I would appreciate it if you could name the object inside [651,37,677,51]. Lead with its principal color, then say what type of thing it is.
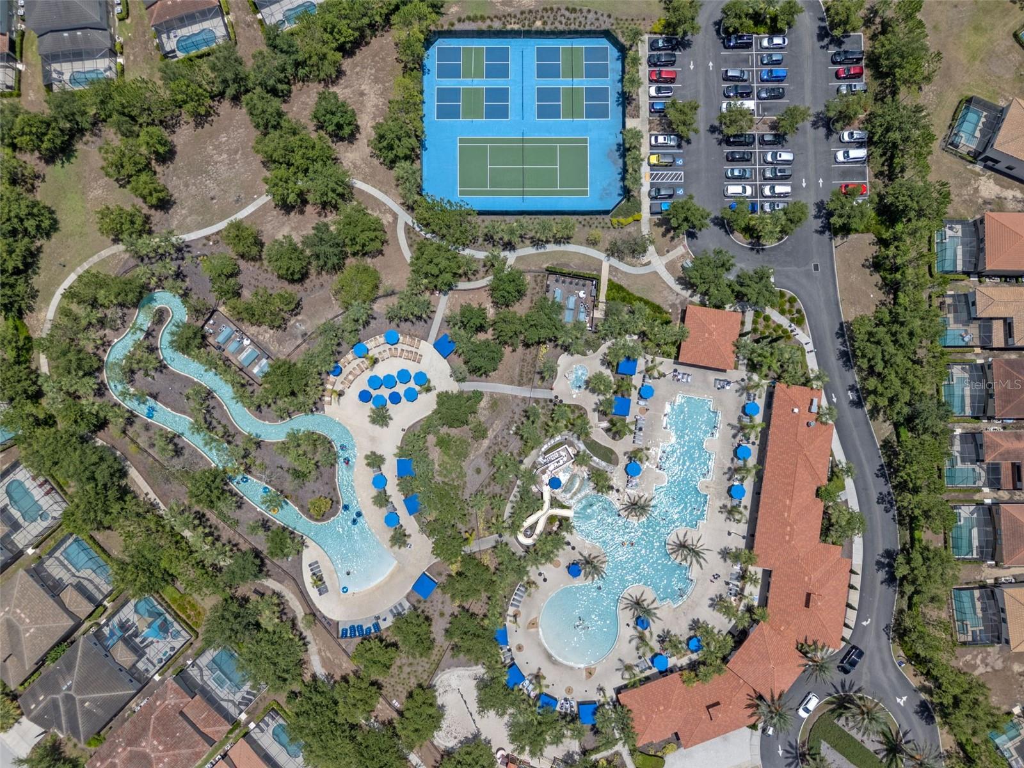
black car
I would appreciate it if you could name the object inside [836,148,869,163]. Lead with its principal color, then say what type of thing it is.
white vehicle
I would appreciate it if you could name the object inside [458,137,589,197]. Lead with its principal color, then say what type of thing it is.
green tennis court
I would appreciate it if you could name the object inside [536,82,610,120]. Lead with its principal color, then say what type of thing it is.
blue sports court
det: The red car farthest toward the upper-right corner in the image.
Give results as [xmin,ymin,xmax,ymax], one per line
[835,65,862,80]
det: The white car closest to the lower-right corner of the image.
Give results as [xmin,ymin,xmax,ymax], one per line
[796,692,820,718]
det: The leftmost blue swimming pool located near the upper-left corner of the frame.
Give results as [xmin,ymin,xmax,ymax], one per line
[69,69,106,86]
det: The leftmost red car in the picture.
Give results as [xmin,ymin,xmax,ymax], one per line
[649,69,676,84]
